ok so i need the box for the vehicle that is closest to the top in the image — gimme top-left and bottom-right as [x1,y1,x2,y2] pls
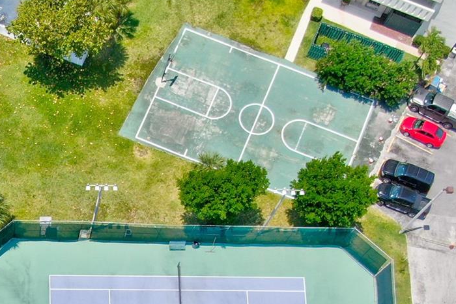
[406,89,456,132]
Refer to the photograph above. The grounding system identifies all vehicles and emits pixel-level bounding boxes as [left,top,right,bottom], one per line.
[380,162,438,201]
[401,118,449,151]
[376,186,437,224]
[406,89,456,132]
